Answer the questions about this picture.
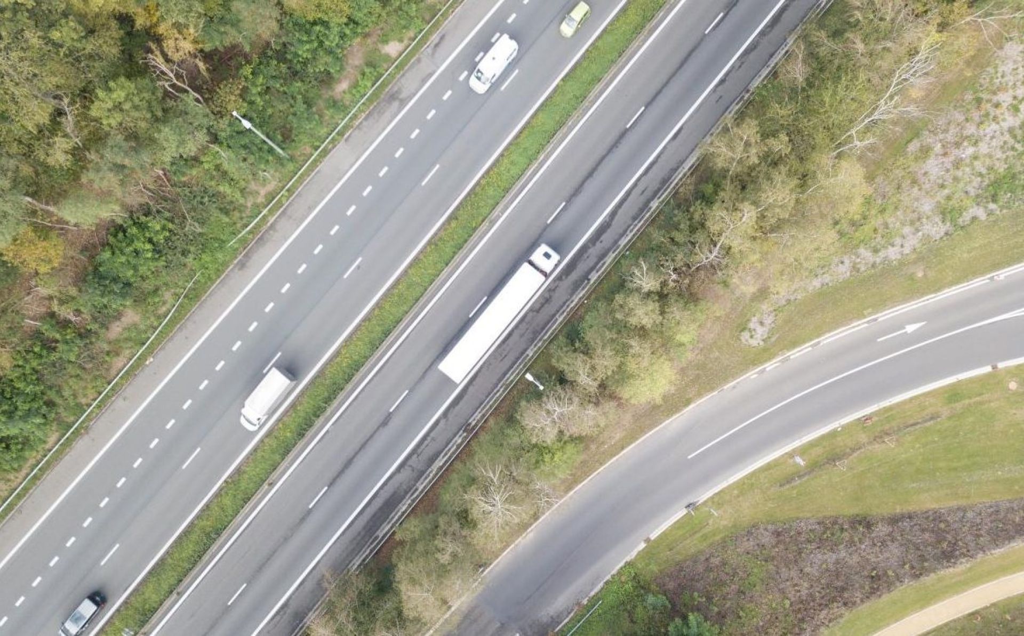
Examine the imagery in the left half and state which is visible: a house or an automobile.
automobile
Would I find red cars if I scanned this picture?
No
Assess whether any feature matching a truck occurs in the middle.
Yes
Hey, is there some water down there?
No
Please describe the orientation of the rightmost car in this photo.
at an angle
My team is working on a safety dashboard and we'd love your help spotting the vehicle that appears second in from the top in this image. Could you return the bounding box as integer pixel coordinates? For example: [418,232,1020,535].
[470,35,519,95]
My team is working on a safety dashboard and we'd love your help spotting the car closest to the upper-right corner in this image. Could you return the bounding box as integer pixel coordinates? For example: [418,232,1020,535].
[559,1,592,39]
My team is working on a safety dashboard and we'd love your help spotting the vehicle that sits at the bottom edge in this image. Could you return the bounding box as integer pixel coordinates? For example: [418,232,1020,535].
[64,589,108,636]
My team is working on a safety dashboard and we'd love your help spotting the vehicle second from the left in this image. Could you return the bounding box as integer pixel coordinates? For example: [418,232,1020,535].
[242,370,294,426]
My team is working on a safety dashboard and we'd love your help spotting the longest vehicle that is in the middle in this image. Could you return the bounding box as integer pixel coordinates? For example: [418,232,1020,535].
[438,243,561,383]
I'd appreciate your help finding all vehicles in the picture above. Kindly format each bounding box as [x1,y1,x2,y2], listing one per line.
[470,35,519,95]
[438,243,561,383]
[242,370,294,426]
[559,1,592,39]
[64,589,108,636]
